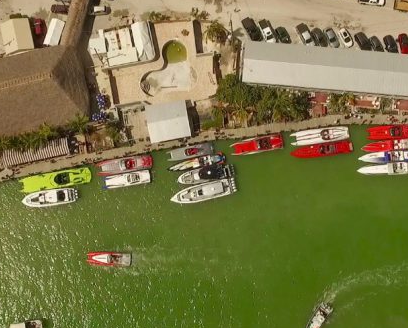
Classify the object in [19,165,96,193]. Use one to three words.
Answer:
boat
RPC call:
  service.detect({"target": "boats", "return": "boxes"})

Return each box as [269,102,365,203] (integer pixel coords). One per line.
[361,138,408,152]
[358,149,408,163]
[366,126,408,140]
[307,304,332,328]
[166,141,219,164]
[168,150,229,170]
[86,251,135,266]
[228,133,286,156]
[177,163,233,185]
[102,169,154,190]
[19,165,96,193]
[170,175,238,202]
[97,153,155,174]
[357,161,408,175]
[21,187,79,206]
[289,126,353,148]
[290,141,355,158]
